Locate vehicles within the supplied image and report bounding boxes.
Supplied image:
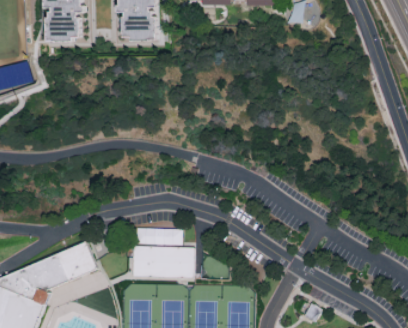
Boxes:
[254,252,264,264]
[250,250,258,261]
[230,204,240,217]
[235,208,245,220]
[257,224,264,232]
[244,248,253,258]
[244,214,254,226]
[252,222,259,230]
[238,240,244,250]
[240,211,249,222]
